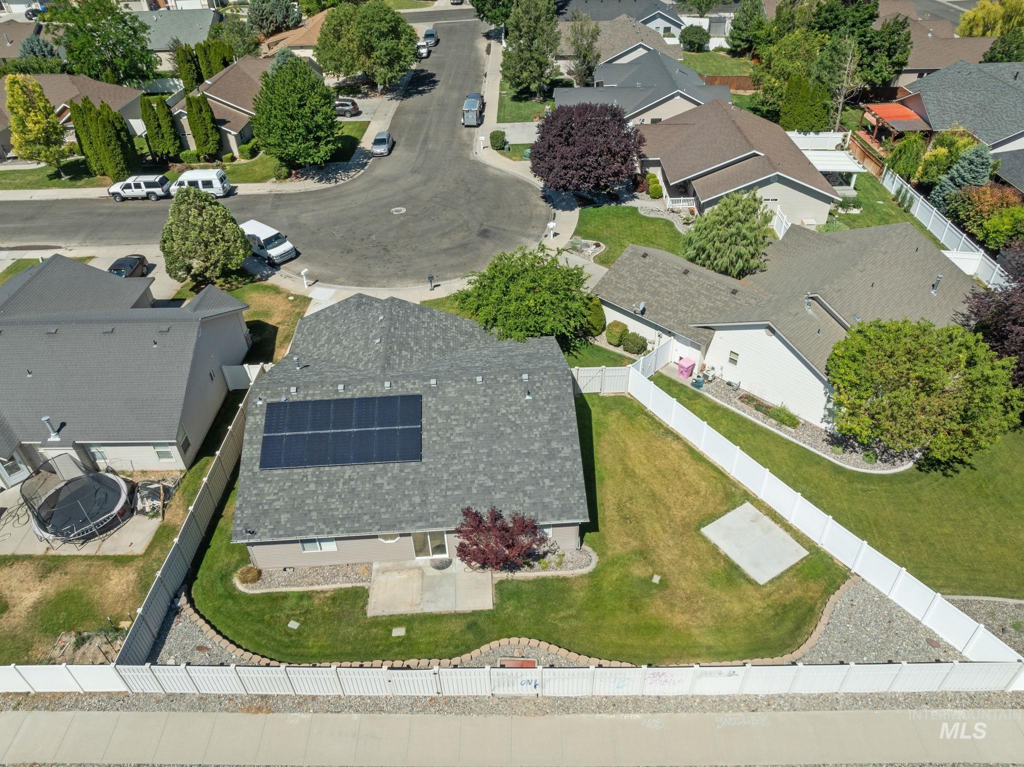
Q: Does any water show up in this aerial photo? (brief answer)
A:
No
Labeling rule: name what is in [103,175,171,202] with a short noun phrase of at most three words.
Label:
car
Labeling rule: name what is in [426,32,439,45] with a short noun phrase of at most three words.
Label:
vehicle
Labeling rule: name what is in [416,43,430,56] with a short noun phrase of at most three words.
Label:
vehicle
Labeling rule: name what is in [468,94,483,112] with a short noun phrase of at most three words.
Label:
car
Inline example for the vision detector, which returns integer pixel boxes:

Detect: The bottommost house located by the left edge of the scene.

[0,250,258,495]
